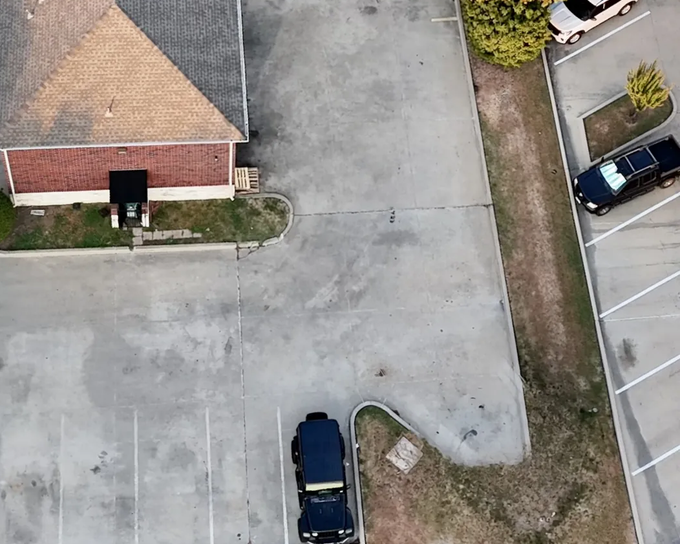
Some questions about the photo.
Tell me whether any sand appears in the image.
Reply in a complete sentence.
No, no sand is visible.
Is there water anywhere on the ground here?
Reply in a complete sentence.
No, there's no water in this view.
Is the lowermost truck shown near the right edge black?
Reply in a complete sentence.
Yes, the lowermost truck shown near the right edge is indeed black.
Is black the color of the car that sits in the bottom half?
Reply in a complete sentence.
Yes, the car that sits in the bottom half is indeed black.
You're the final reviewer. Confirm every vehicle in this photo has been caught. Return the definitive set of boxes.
[567,131,680,216]
[545,0,645,43]
[291,409,352,542]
